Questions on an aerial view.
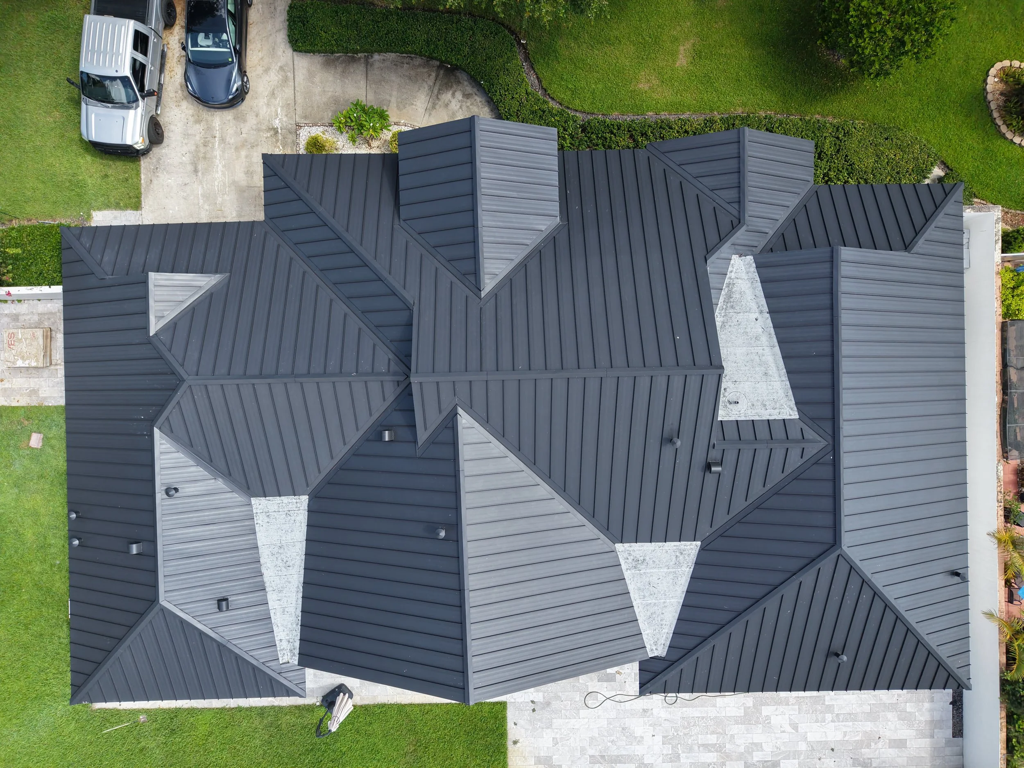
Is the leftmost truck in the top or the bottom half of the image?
top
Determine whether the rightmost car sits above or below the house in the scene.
above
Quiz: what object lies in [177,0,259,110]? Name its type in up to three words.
car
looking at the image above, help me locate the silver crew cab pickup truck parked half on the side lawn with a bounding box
[67,0,176,158]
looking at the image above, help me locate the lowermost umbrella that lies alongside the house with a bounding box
[315,685,354,739]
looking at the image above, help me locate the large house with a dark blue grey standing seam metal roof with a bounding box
[59,114,974,706]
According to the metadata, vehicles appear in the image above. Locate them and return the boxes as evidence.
[67,0,176,158]
[177,0,259,110]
